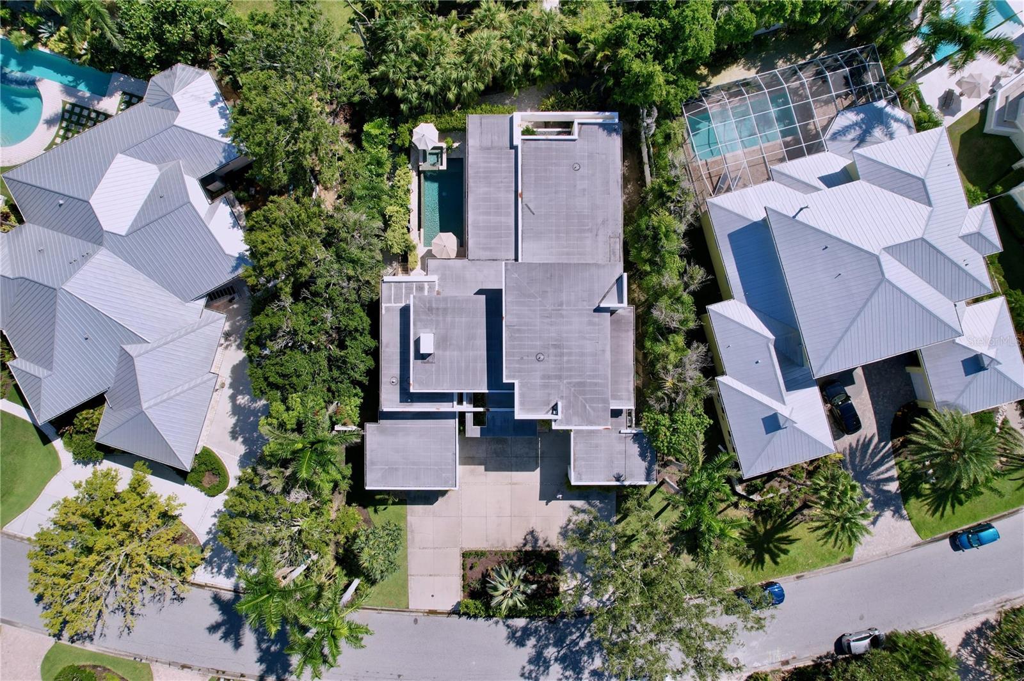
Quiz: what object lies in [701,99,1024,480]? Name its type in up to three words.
house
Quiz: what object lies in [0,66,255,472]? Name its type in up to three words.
house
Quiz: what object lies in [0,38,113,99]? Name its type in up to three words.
swimming pool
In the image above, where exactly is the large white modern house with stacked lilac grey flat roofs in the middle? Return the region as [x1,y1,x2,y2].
[365,111,657,491]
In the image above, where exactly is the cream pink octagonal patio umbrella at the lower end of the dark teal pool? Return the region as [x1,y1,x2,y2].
[431,232,459,259]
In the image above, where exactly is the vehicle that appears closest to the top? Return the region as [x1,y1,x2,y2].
[823,378,867,439]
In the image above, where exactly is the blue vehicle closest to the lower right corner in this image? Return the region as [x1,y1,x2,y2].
[958,520,1008,553]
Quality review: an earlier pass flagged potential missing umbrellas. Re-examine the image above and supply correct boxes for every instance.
[956,69,989,103]
[431,232,459,259]
[412,122,440,151]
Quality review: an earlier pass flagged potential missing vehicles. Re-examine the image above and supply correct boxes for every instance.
[738,583,790,616]
[823,378,867,439]
[842,628,895,660]
[958,520,1008,553]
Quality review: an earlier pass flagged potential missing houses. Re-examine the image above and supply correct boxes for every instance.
[701,99,1024,480]
[365,111,657,491]
[973,70,1024,215]
[0,66,255,472]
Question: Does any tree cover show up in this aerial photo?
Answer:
Yes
